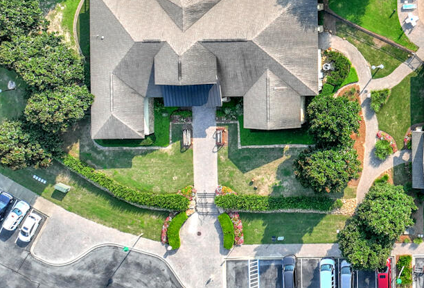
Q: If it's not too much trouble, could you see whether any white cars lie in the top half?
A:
No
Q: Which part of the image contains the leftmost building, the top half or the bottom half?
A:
top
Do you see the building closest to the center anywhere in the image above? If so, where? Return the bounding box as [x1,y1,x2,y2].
[91,0,321,140]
